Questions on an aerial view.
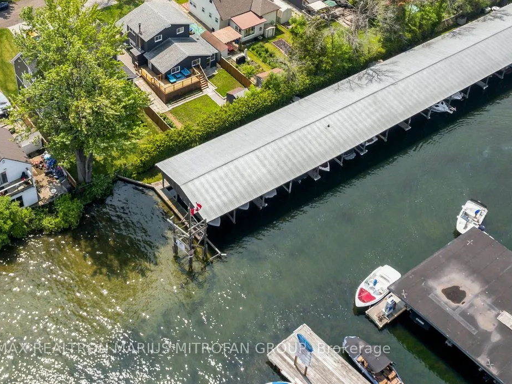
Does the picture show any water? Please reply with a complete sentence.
Yes, some water is visible.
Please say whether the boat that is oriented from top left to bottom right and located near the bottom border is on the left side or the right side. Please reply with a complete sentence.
The boat that is oriented from top left to bottom right and located near the bottom border sits on the right side.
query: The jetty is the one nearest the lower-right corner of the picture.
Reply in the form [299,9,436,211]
[365,293,409,330]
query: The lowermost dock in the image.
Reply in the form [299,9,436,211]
[262,323,362,384]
